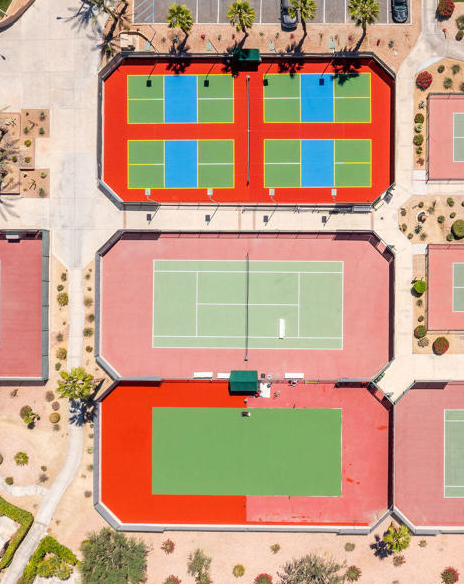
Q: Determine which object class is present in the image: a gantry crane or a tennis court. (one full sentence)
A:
It is a tennis court that can be seen here.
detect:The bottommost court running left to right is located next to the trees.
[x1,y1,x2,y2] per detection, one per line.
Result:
[100,380,392,525]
